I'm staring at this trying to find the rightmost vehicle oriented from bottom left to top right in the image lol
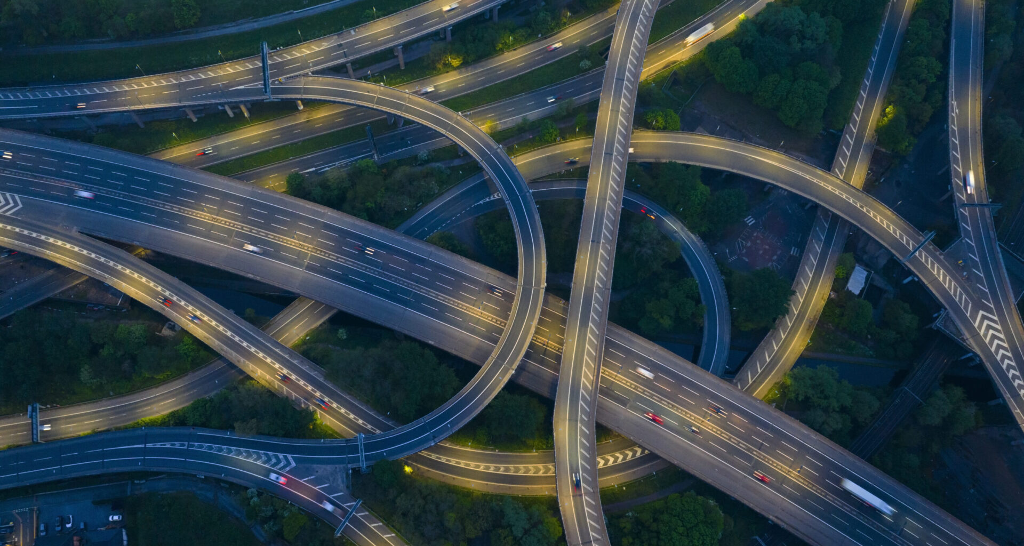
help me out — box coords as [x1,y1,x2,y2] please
[688,22,714,43]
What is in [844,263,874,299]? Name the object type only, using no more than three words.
shed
